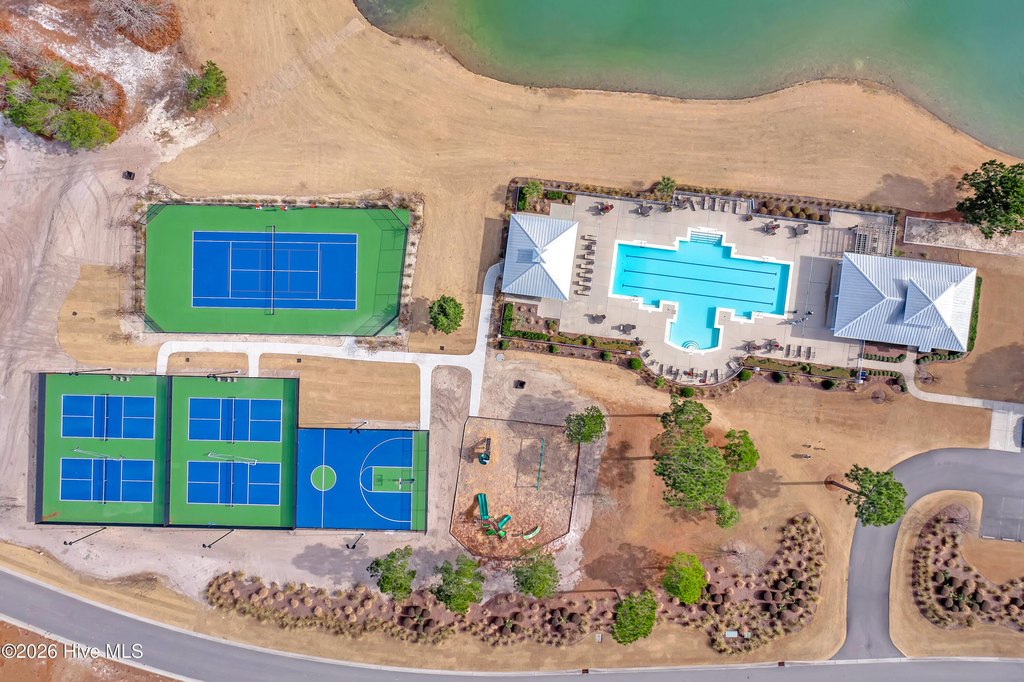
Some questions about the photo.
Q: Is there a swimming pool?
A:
Yes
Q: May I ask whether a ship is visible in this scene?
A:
No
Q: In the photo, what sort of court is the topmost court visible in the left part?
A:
tennis court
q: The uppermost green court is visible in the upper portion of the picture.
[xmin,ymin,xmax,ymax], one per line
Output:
[143,204,409,335]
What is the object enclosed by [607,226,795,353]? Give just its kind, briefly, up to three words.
swimming pool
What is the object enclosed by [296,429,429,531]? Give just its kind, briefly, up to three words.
basketball court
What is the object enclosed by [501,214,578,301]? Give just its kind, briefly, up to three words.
building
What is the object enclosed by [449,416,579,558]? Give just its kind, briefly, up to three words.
playground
